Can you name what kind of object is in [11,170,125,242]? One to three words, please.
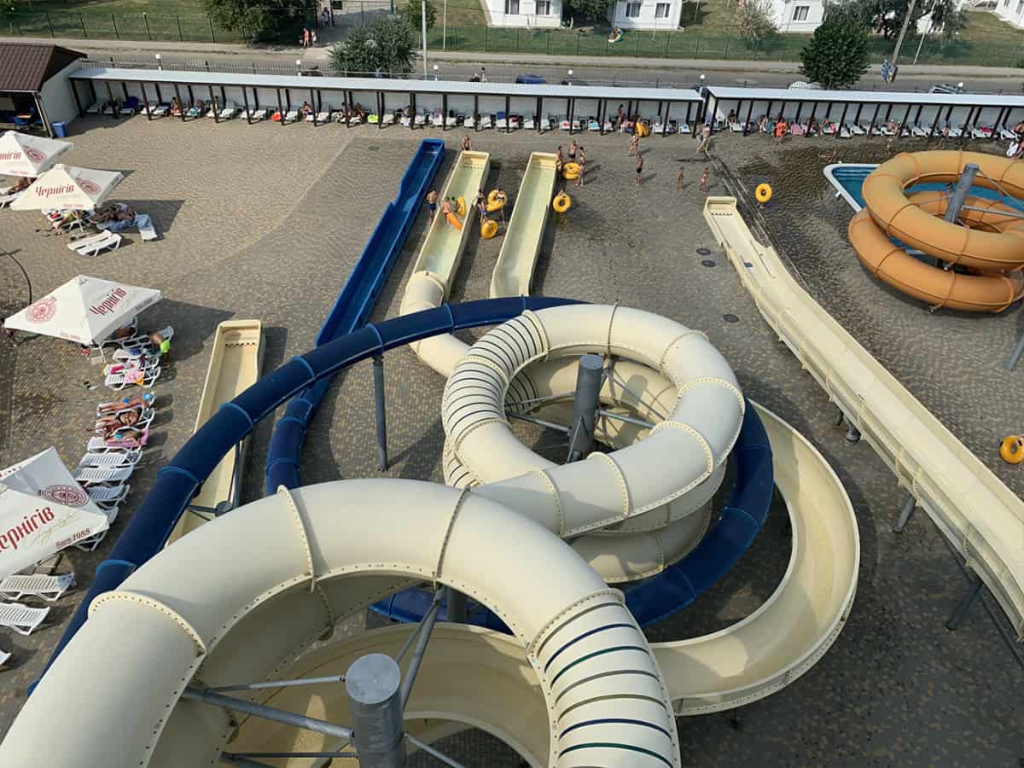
umbrella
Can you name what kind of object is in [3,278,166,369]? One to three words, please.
umbrella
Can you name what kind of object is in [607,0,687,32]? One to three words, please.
house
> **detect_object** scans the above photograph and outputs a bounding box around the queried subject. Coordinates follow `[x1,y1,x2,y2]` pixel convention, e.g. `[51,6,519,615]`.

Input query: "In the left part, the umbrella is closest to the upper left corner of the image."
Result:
[0,140,73,194]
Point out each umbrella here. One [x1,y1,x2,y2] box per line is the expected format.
[0,140,73,194]
[11,170,125,242]
[3,278,166,369]
[0,448,113,598]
